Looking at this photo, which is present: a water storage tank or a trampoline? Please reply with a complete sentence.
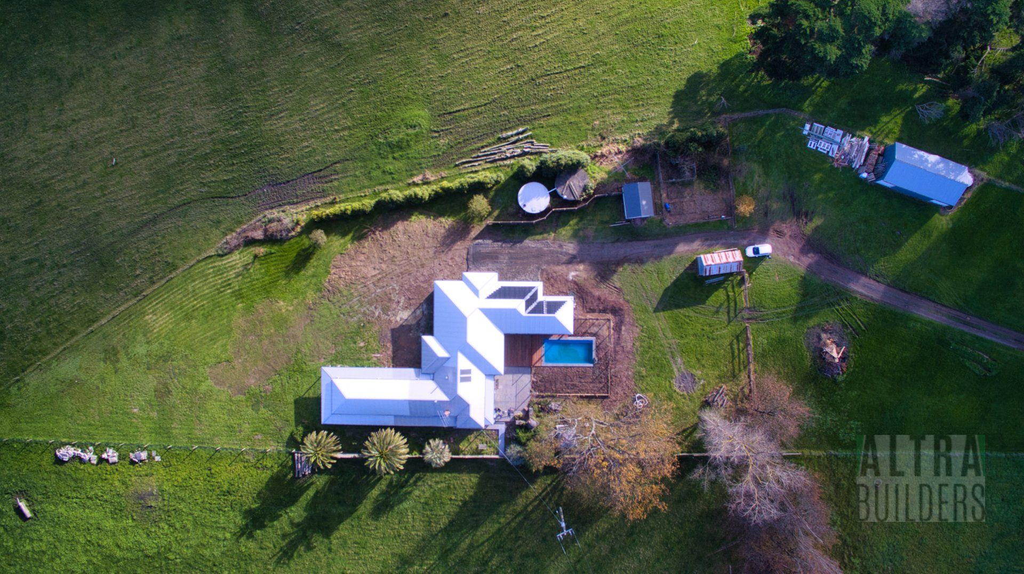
This aerial view contains a water storage tank.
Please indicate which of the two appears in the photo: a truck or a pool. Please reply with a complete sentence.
There is a pool in the scene.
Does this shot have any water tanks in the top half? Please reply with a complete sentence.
Yes, a water tank can be seen in the top half.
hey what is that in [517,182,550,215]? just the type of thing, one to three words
water tank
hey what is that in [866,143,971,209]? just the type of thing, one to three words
shed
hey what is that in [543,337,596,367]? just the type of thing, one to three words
swimming pool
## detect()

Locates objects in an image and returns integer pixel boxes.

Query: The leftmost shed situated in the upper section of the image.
[621,182,653,220]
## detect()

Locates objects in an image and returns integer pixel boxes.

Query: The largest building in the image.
[321,272,574,428]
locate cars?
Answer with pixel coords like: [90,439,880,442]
[745,245,772,257]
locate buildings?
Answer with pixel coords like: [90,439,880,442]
[866,143,971,209]
[621,182,653,220]
[321,272,574,428]
[696,250,742,276]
